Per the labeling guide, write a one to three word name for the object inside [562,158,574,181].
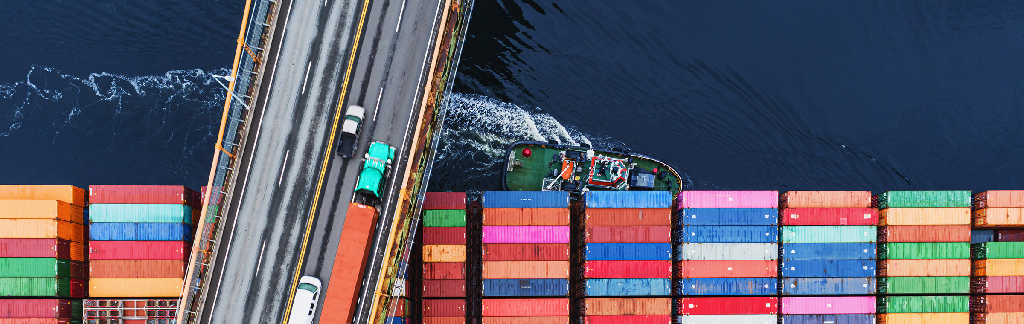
boat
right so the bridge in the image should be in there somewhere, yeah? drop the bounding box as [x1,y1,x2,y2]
[174,0,476,324]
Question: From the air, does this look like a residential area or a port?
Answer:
port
